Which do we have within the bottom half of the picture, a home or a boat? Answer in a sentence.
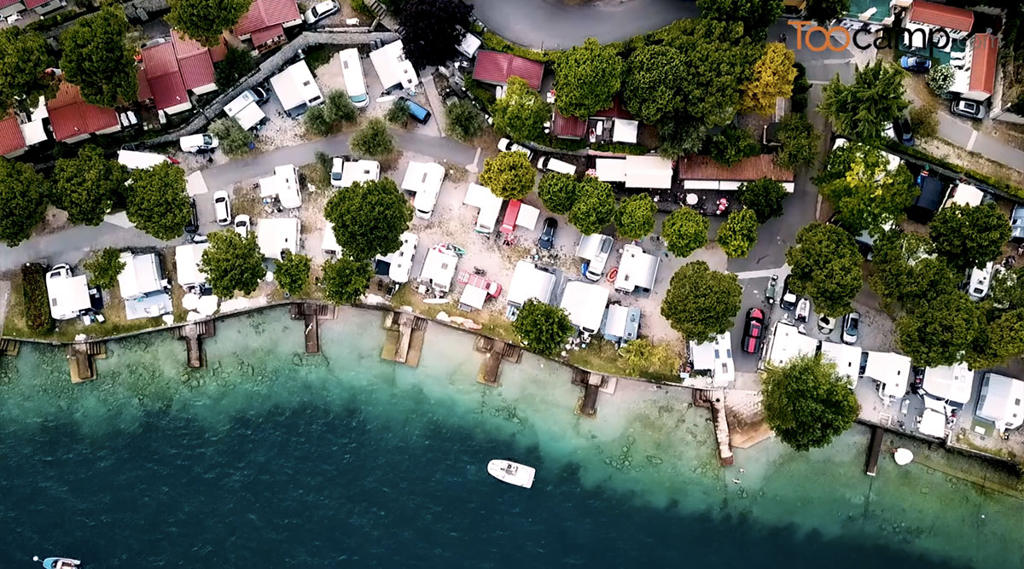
The one visible within the bottom half of the picture is a boat.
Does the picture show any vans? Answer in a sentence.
Yes, I can see a van in this picture.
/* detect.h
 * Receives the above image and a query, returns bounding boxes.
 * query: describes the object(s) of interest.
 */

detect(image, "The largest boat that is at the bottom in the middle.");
[487,460,538,490]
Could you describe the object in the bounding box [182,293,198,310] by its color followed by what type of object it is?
white umbrella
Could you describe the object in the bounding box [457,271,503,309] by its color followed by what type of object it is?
white van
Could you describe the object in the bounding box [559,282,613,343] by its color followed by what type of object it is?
white camper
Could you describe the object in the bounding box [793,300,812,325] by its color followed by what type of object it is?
white boat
